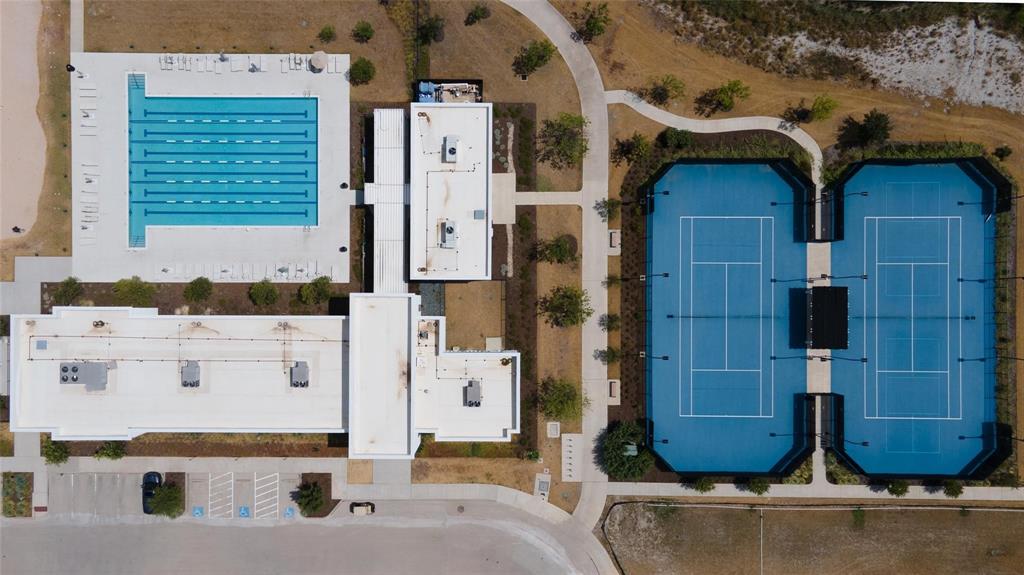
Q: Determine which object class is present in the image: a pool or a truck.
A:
pool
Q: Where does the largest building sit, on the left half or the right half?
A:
left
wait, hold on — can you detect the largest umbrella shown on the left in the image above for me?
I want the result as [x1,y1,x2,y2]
[309,53,326,70]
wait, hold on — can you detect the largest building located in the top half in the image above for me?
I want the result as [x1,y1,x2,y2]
[410,103,495,281]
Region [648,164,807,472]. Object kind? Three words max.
tennis court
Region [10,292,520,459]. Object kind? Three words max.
building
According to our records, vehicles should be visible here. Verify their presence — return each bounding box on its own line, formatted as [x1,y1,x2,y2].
[350,500,375,515]
[141,471,163,514]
